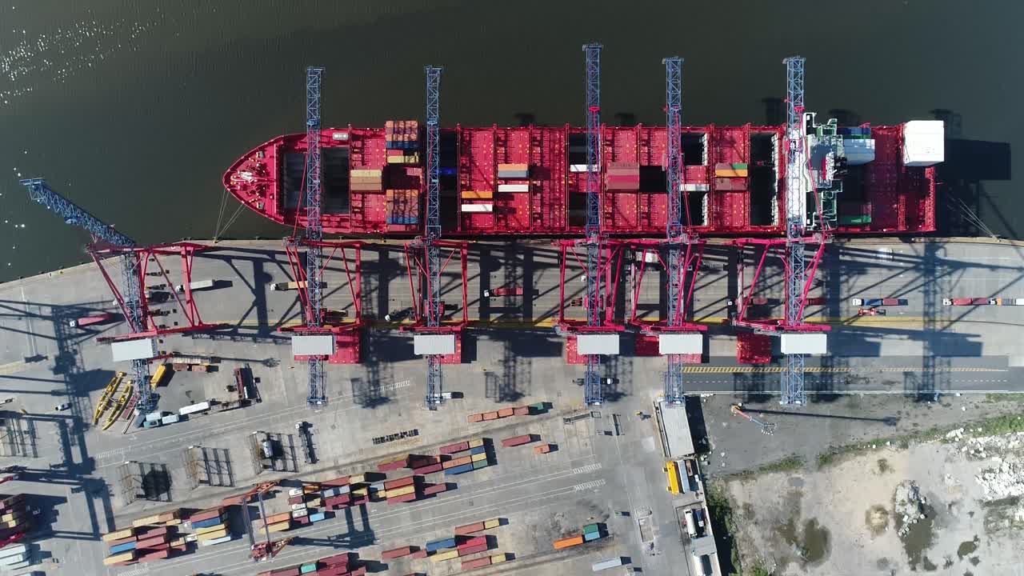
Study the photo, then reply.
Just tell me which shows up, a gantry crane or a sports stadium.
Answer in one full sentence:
I can see a gantry crane in this picture.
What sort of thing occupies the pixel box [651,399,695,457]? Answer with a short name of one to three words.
shed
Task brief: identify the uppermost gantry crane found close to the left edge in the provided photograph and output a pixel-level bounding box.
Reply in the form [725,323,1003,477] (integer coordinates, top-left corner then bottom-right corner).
[13,177,216,416]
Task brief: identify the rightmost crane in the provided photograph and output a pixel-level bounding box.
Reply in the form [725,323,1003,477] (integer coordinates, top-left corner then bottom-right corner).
[724,55,838,408]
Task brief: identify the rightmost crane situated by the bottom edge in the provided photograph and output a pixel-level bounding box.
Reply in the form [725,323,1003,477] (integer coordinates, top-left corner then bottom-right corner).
[244,478,293,559]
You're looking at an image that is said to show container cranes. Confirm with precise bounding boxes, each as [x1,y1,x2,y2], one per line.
[273,65,372,408]
[244,478,293,559]
[395,65,477,408]
[724,55,838,408]
[619,56,713,408]
[13,177,216,416]
[546,42,630,408]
